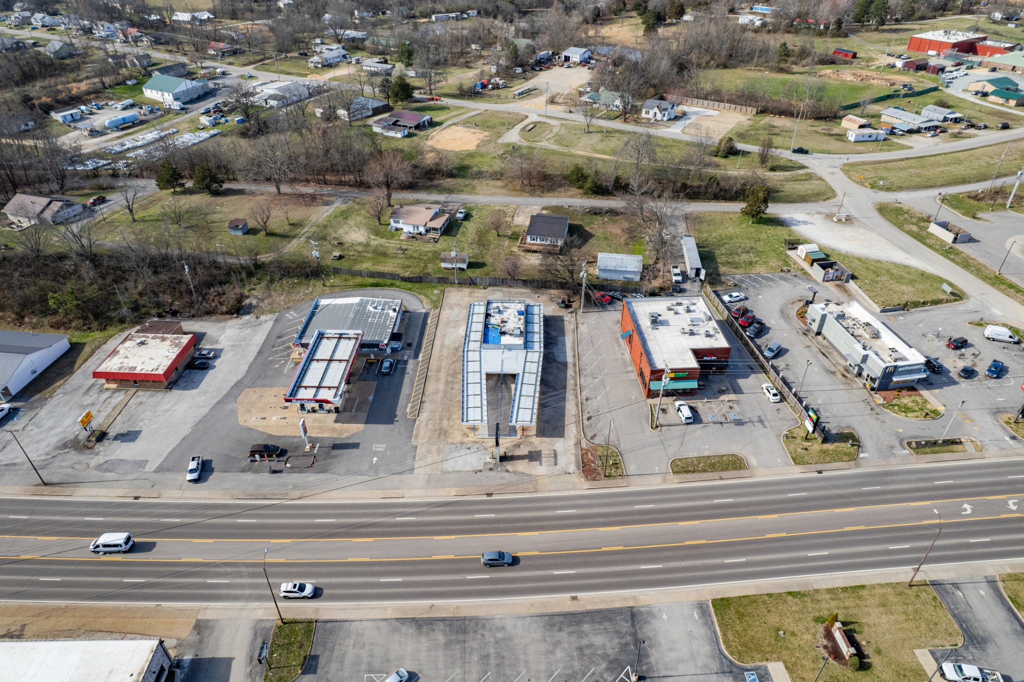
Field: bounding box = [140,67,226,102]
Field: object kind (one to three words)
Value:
building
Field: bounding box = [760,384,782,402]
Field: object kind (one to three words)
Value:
car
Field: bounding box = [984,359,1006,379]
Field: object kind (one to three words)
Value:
vehicle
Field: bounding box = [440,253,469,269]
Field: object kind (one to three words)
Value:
shed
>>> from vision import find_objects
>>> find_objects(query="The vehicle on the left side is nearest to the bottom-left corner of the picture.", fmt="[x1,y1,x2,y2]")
[90,529,135,554]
